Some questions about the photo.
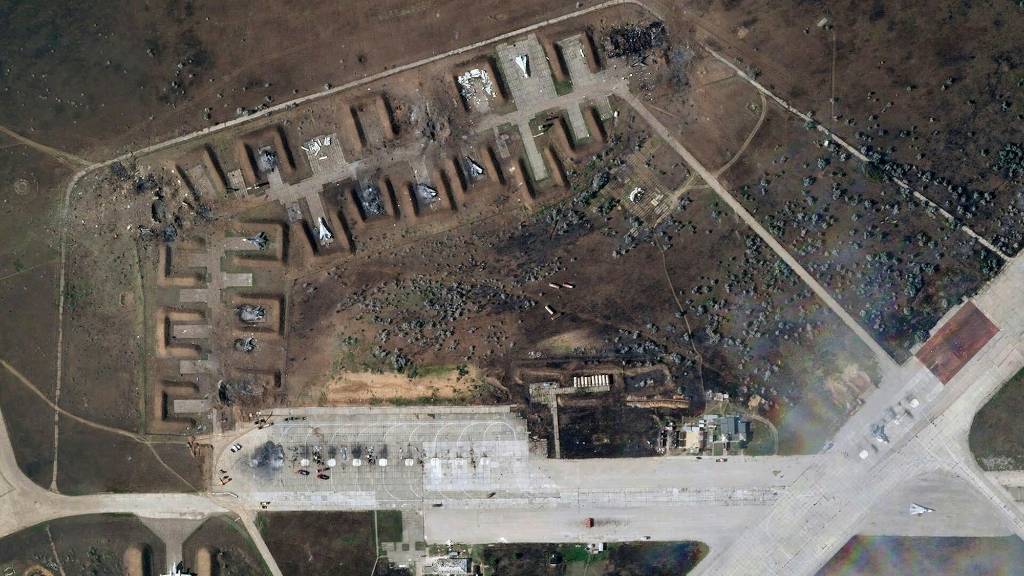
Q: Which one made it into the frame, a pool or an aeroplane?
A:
aeroplane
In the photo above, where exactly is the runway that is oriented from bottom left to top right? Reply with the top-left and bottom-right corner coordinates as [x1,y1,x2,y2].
[688,247,1024,576]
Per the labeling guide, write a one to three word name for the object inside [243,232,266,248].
airplane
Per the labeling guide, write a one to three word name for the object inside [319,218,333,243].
airplane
